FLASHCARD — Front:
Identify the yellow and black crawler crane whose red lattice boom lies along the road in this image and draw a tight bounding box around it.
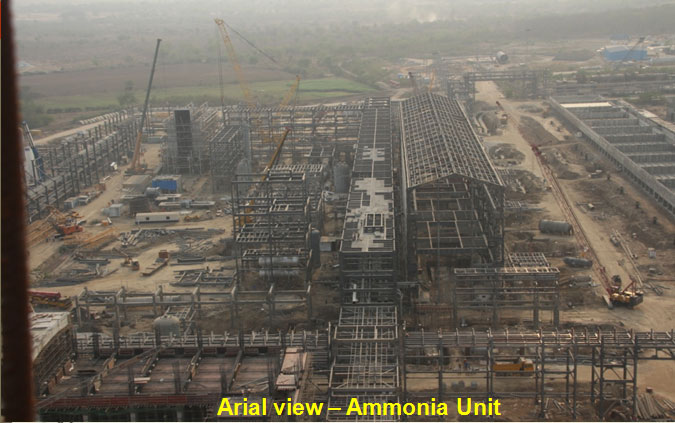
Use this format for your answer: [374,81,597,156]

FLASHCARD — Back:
[532,141,648,304]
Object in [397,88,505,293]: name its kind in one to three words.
shed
